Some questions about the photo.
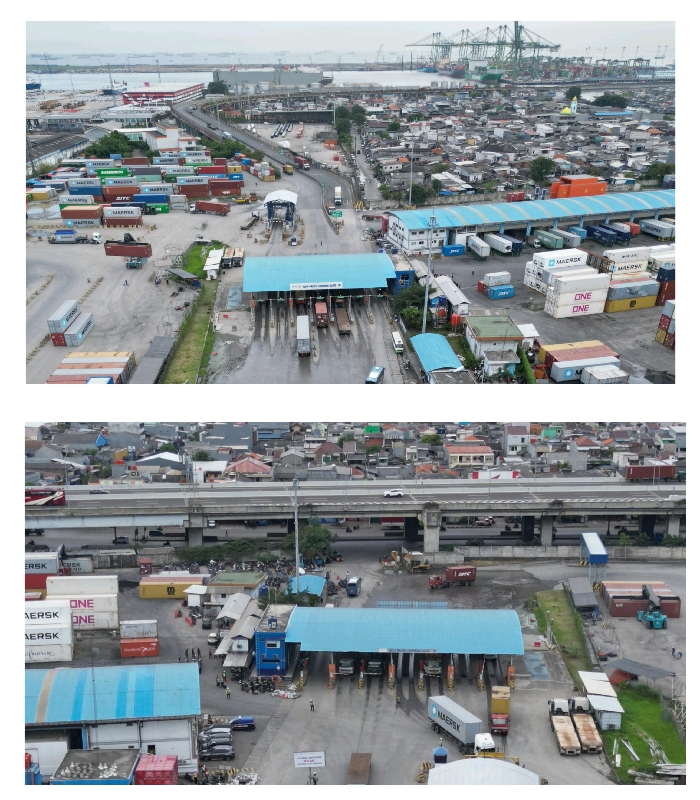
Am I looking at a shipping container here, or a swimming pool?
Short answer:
shipping container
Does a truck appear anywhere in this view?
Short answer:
Yes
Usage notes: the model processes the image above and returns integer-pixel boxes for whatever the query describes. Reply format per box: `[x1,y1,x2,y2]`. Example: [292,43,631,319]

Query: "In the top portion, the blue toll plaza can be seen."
[243,254,396,332]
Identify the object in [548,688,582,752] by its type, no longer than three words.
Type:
truck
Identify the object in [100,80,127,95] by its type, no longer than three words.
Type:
ship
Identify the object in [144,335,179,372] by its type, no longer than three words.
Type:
shed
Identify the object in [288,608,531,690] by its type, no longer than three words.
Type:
toll station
